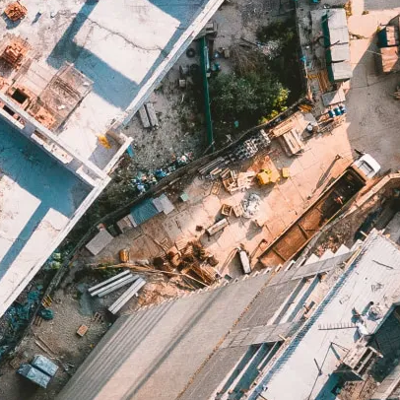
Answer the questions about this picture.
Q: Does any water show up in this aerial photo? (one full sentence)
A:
No, no water is visible.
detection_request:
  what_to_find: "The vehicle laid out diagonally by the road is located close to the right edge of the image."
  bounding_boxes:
[267,136,400,254]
